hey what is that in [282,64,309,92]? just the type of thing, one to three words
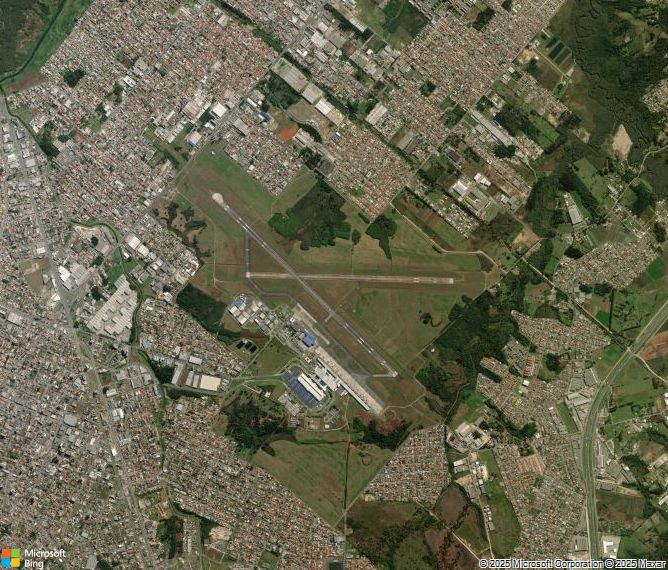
building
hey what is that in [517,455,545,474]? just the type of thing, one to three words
building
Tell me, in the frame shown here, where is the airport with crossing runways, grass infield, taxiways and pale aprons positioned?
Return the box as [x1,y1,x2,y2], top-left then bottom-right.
[153,147,496,523]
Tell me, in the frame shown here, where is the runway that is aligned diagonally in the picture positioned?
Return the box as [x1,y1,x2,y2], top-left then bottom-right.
[221,203,397,376]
